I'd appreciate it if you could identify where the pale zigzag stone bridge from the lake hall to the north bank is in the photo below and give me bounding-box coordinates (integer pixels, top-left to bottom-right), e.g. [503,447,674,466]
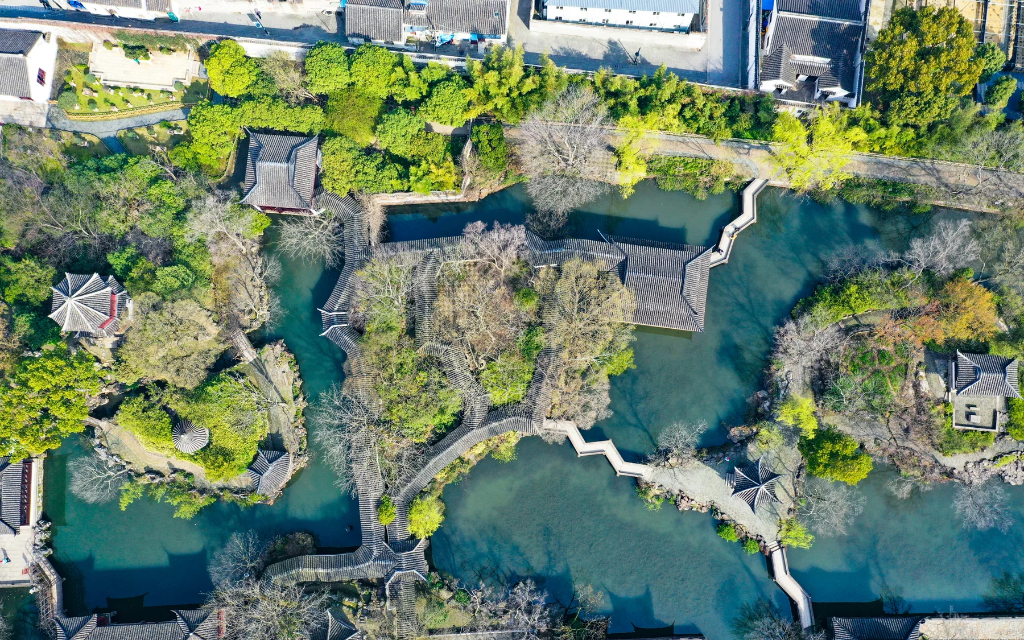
[712,173,768,266]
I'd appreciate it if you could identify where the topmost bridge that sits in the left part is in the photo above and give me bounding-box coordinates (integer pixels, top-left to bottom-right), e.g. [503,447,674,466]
[228,327,260,366]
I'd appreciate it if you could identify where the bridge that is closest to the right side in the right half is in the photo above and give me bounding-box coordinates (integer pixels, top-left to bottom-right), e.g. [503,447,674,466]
[770,548,819,640]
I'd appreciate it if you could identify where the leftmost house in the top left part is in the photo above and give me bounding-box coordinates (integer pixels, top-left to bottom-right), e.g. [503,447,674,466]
[0,29,54,105]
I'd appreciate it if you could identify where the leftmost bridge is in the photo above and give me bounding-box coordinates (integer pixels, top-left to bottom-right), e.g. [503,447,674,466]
[34,553,72,617]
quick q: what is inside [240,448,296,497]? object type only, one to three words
building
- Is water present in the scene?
Yes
